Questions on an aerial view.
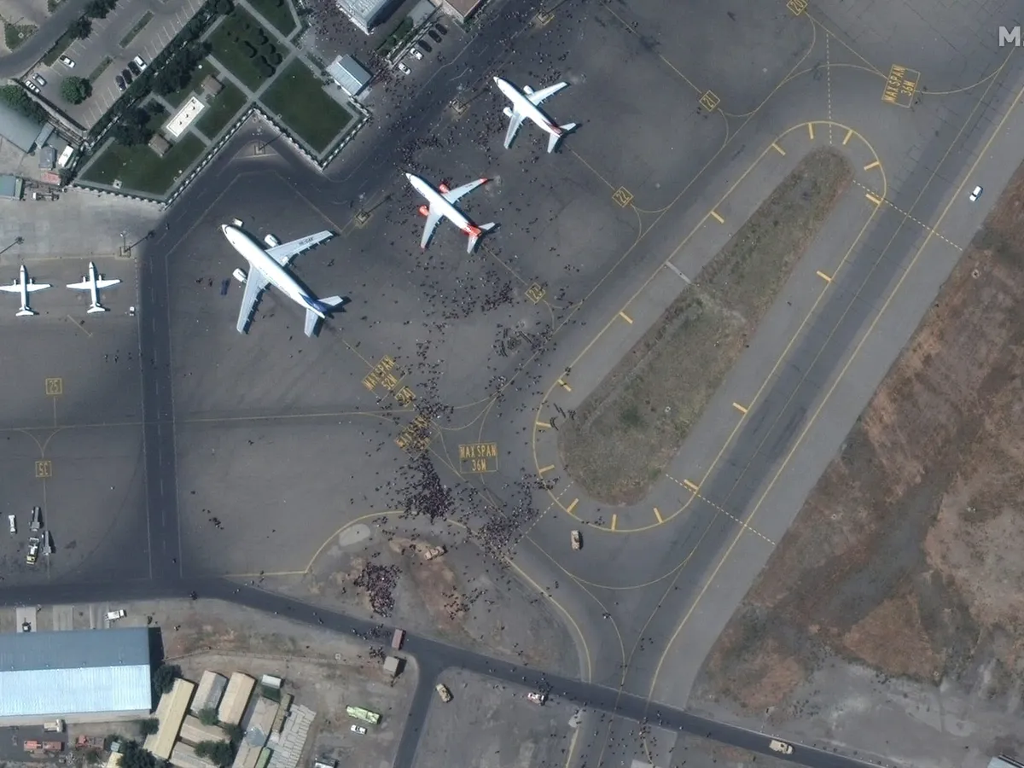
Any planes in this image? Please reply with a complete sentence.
Yes, there is a plane in the image.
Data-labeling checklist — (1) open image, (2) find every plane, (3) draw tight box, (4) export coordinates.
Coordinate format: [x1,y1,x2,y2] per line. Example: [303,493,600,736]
[222,224,344,335]
[0,266,50,316]
[66,262,120,313]
[493,77,576,151]
[406,173,498,251]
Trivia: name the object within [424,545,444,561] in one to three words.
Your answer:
vehicle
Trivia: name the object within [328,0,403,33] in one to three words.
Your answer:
building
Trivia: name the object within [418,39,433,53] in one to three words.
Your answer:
car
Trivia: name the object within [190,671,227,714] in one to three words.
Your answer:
shed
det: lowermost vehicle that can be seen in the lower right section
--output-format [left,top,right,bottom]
[768,740,792,754]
